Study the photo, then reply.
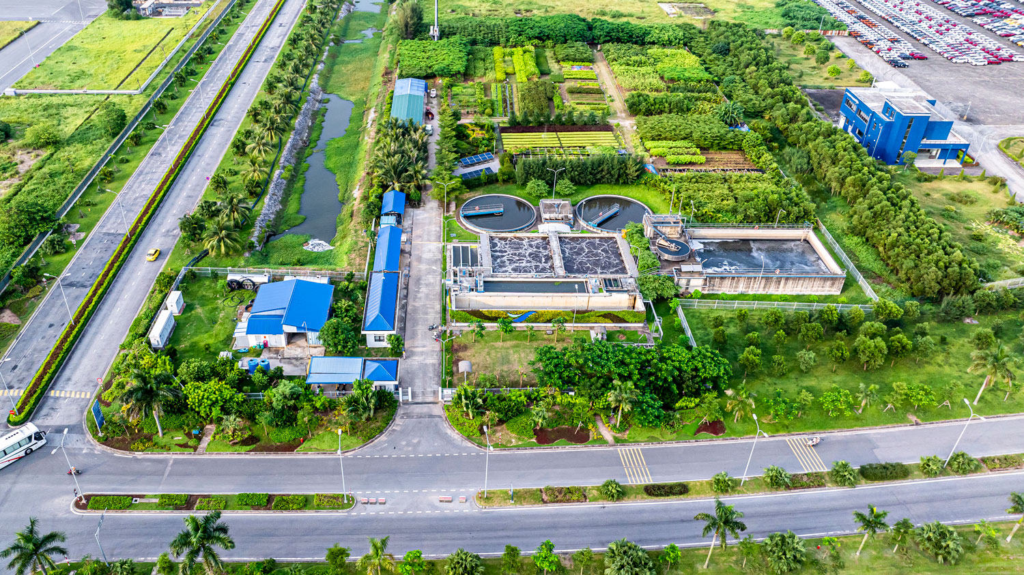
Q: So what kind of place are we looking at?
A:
industrial area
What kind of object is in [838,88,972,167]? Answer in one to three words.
building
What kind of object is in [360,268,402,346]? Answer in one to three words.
house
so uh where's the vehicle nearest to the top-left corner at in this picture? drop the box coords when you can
[143,245,161,259]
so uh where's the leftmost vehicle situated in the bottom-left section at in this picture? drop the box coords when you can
[0,419,48,465]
